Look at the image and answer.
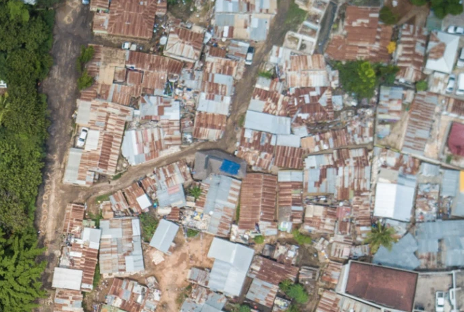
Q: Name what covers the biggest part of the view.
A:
buildings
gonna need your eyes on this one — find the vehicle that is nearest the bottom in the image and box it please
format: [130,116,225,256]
[434,291,446,312]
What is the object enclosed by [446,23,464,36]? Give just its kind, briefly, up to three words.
vehicle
